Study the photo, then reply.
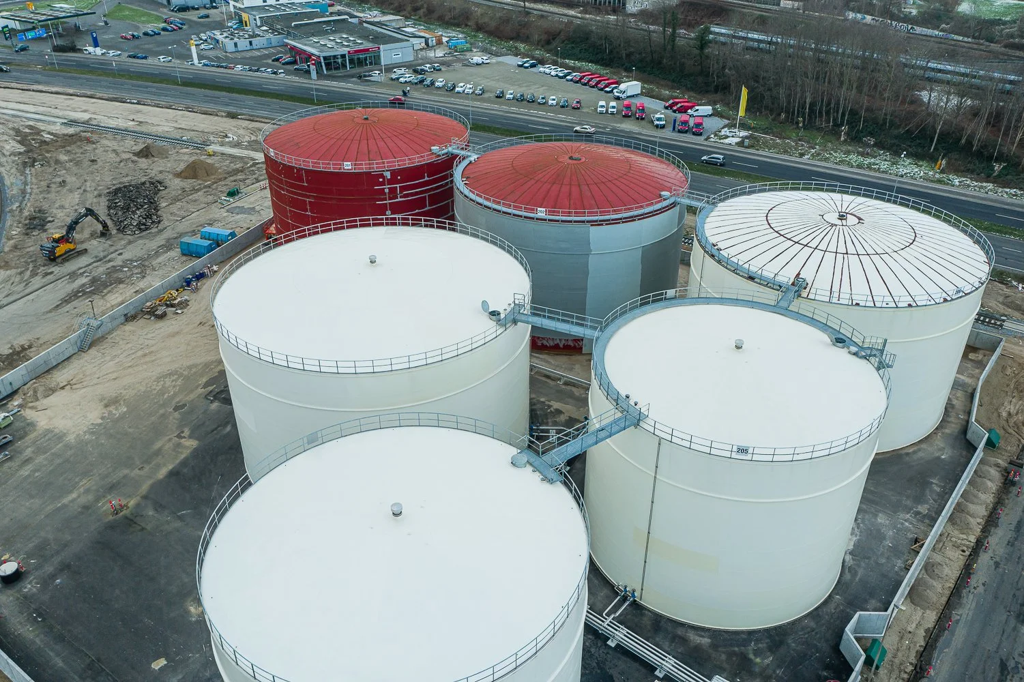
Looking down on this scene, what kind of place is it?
industrial area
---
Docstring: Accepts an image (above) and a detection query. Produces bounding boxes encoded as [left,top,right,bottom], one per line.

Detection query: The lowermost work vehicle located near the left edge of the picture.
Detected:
[39,205,116,267]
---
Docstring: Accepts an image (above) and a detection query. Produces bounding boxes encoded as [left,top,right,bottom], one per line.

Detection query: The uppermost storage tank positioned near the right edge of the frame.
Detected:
[688,181,994,453]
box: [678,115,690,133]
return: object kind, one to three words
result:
vehicle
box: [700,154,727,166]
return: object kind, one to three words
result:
vehicle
